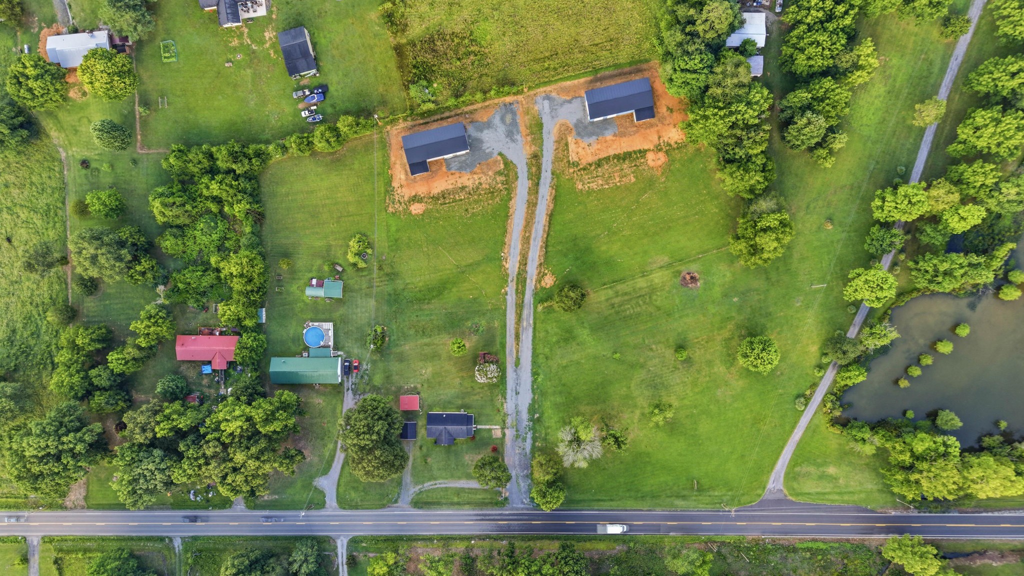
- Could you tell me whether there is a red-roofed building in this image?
Yes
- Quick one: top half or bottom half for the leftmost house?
top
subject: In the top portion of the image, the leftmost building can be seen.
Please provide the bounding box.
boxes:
[44,28,111,71]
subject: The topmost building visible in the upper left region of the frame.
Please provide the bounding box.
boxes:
[196,0,256,29]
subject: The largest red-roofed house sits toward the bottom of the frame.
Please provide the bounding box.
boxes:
[174,335,239,370]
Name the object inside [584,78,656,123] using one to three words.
house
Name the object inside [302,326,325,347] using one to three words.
swimming pool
